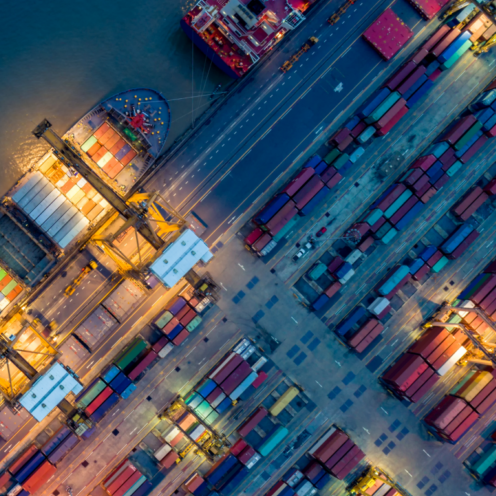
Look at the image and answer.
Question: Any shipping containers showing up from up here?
Yes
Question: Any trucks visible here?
Yes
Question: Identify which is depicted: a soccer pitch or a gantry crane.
gantry crane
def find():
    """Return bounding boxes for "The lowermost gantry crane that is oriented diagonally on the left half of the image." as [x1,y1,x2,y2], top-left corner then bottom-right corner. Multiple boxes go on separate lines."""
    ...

[157,395,233,468]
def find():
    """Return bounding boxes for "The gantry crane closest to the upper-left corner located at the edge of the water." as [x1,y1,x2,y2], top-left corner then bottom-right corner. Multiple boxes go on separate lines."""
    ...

[31,117,222,303]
